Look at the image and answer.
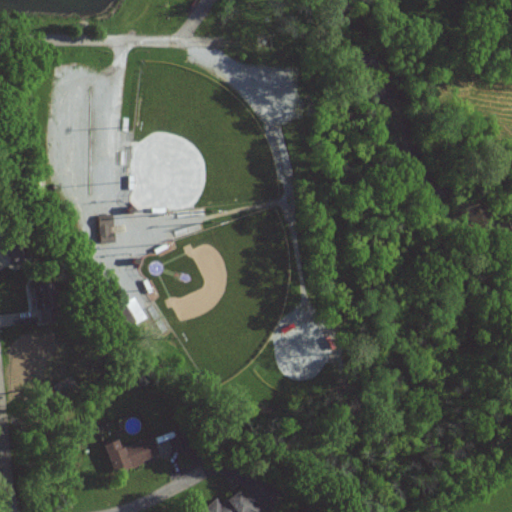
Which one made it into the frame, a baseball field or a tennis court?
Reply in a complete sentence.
Of the two, only a baseball field appears.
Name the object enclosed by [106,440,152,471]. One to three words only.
house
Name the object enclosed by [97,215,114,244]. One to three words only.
building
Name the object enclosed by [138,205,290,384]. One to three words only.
baseball field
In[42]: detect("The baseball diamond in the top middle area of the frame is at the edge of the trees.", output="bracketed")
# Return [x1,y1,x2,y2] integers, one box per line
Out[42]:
[130,60,284,210]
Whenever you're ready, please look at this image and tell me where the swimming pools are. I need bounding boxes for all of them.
[124,418,141,434]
